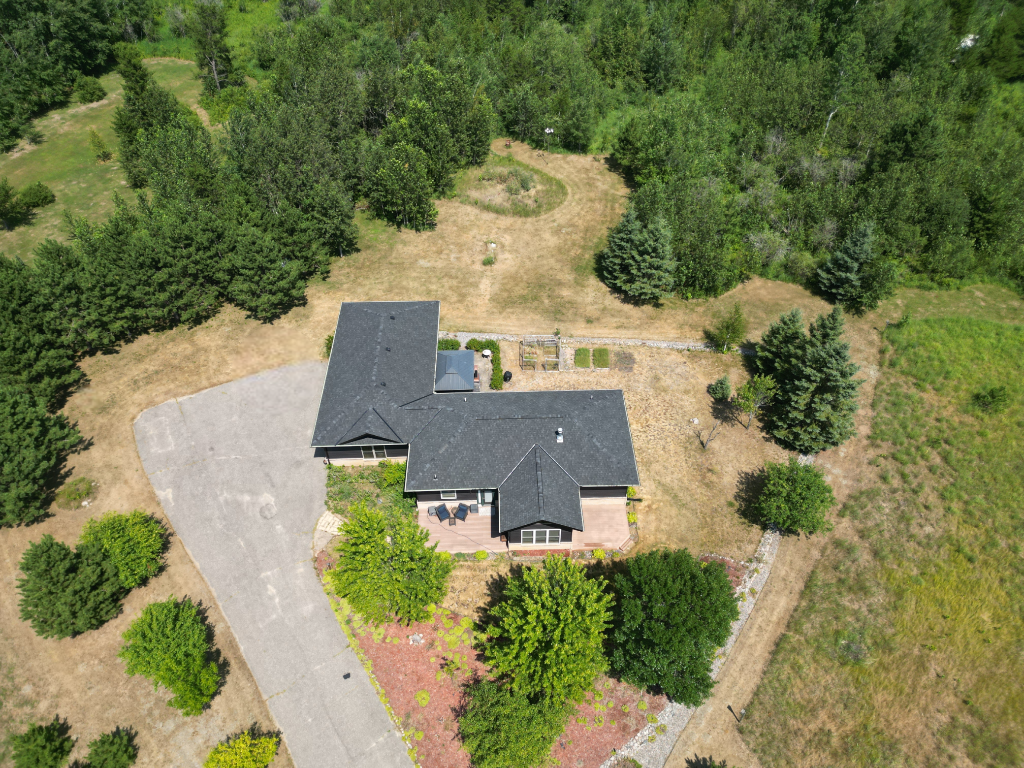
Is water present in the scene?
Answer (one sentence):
No, water can't be seen anywhere here.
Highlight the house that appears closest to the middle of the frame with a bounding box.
[310,300,641,552]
